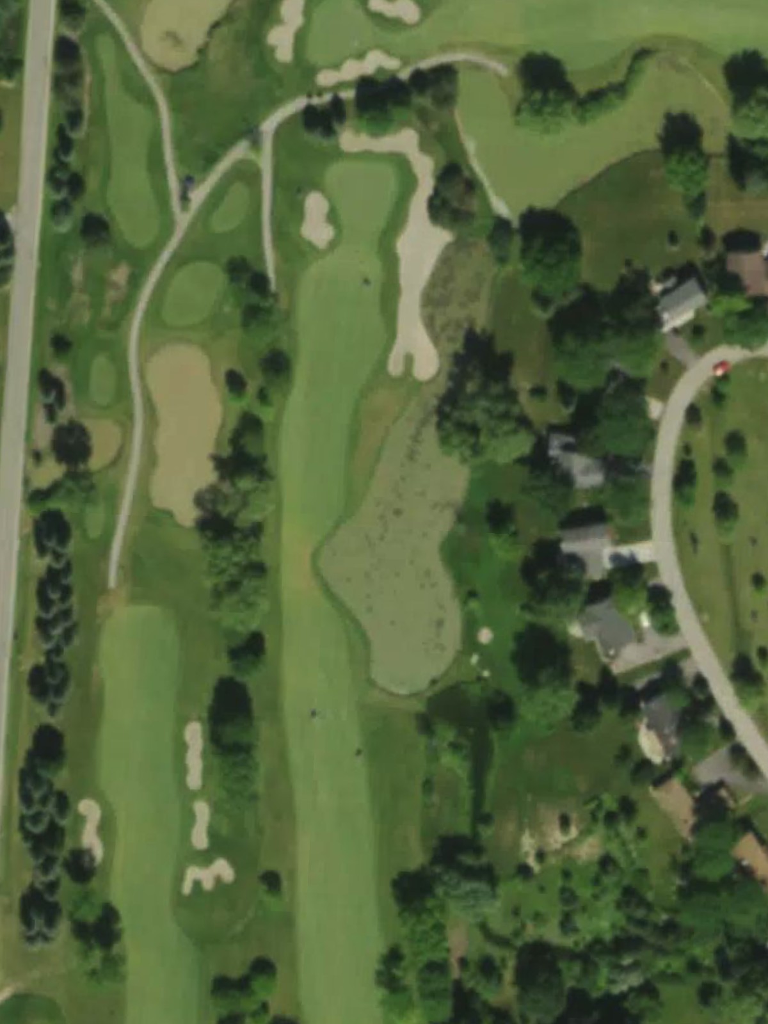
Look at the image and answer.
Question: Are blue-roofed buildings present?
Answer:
No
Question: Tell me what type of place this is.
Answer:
golf course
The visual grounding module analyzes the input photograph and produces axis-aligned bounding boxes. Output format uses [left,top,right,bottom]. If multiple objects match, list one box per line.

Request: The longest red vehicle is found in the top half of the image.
[714,362,730,374]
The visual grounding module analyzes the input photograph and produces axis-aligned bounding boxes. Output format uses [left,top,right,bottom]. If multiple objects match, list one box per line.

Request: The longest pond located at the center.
[303,374,480,703]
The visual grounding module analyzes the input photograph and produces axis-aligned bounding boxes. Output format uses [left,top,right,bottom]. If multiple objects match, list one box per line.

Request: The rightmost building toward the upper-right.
[729,248,768,300]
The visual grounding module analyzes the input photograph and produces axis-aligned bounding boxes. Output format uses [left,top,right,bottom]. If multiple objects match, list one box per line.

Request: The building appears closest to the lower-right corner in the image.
[734,835,768,879]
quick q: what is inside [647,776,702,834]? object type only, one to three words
house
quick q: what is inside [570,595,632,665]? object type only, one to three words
house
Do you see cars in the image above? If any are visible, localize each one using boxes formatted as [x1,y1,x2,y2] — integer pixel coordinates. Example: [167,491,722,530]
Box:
[714,362,730,374]
[639,612,650,628]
